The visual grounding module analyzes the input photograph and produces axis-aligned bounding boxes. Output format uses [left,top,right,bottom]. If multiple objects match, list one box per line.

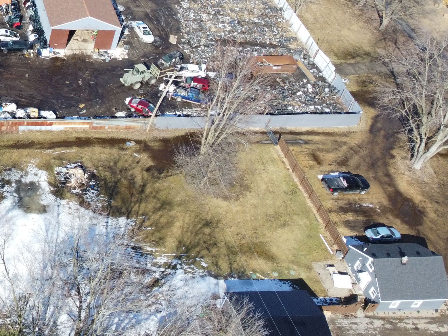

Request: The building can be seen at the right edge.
[342,243,448,312]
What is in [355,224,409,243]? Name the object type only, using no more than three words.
car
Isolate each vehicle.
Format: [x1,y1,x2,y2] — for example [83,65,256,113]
[177,75,219,92]
[172,63,210,78]
[120,94,161,116]
[0,39,34,54]
[157,48,188,69]
[168,87,214,110]
[117,57,173,89]
[0,28,21,42]
[317,172,374,197]
[134,20,155,43]
[355,224,409,243]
